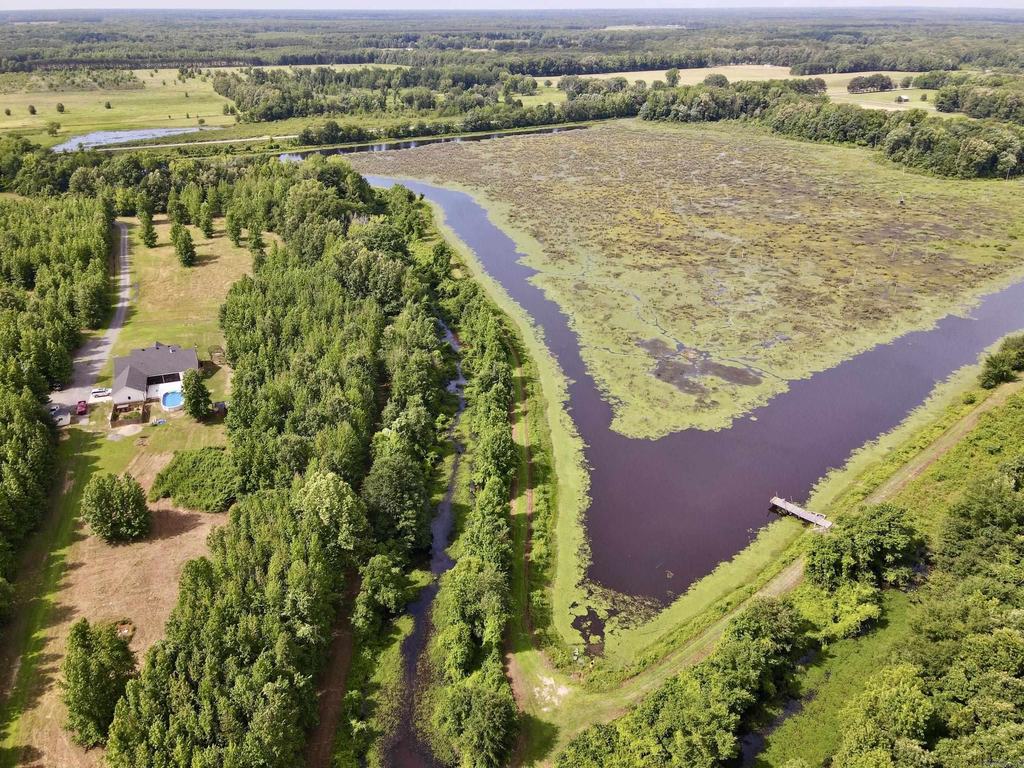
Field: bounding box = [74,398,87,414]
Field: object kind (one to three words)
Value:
vehicle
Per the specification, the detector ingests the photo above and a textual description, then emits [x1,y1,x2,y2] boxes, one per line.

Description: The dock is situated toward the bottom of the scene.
[769,495,827,526]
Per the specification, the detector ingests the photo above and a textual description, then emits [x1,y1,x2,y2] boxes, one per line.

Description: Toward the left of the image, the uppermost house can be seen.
[109,341,202,404]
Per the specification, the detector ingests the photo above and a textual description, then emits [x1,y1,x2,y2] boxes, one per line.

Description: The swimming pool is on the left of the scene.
[159,393,188,412]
